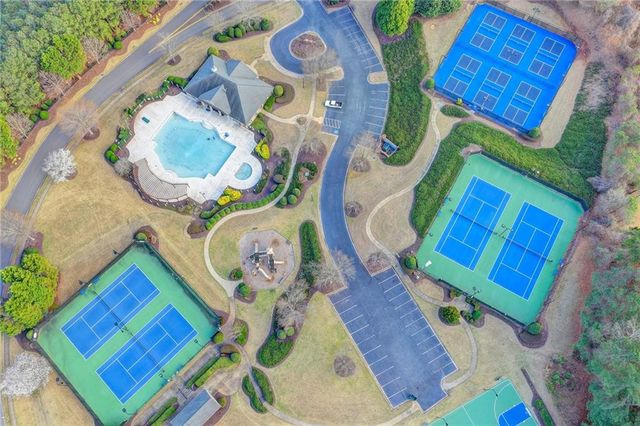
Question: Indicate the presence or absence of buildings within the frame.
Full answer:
Yes, this view includes a building.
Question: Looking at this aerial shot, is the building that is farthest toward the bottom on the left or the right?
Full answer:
It is on the left.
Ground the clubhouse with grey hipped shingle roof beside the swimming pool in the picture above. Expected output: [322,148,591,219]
[184,55,274,127]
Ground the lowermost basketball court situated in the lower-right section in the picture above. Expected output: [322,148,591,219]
[422,377,538,426]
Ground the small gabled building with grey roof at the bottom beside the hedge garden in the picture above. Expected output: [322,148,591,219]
[165,389,220,426]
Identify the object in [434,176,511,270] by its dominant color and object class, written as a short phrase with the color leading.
blue tennis court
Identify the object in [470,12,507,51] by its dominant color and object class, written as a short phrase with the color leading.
blue sports court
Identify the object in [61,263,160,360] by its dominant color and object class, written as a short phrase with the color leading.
blue tennis court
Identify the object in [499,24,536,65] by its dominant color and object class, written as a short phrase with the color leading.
blue sports court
